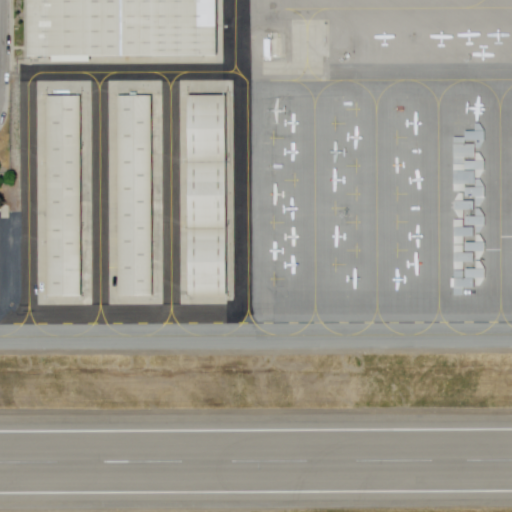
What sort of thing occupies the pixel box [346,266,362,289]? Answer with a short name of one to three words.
airplane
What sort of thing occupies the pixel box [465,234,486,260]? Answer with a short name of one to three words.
hangar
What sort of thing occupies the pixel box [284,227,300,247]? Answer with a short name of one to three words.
airplane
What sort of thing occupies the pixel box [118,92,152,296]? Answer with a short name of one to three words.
hangar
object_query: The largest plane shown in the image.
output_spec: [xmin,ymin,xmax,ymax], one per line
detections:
[466,96,485,122]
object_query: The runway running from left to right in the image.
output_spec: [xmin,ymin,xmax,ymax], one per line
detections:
[0,414,512,504]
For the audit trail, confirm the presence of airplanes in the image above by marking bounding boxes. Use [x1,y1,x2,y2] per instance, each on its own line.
[346,126,362,150]
[409,169,424,190]
[330,140,346,163]
[406,252,423,276]
[330,168,346,192]
[458,30,482,46]
[284,142,299,162]
[284,112,300,133]
[472,45,495,60]
[466,96,485,122]
[392,156,406,174]
[332,225,346,248]
[392,268,407,292]
[346,266,362,289]
[282,196,298,220]
[408,224,424,248]
[270,240,284,260]
[268,98,286,124]
[488,29,510,44]
[430,31,454,48]
[270,182,284,206]
[374,32,396,47]
[406,111,422,136]
[284,255,299,275]
[284,227,300,247]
